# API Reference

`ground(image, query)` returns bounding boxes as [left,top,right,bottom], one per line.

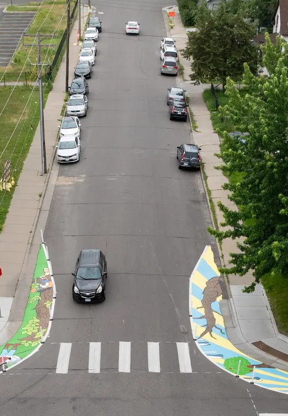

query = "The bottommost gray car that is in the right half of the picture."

[173,138,201,167]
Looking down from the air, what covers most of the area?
paved ground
